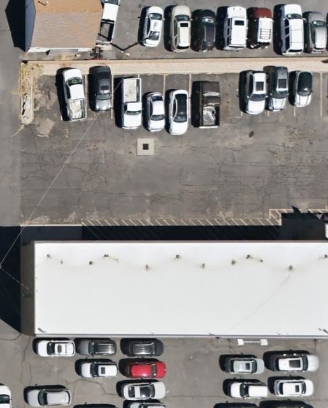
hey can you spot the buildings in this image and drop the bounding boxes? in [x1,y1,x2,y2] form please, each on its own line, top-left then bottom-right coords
[20,243,328,337]
[26,0,102,51]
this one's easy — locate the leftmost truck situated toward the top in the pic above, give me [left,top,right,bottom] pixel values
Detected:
[62,69,89,123]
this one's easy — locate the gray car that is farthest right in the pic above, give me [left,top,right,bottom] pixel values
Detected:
[305,12,328,54]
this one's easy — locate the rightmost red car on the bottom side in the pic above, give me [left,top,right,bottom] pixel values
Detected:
[126,361,165,380]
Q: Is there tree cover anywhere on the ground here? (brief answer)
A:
No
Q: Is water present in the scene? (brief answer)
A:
No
